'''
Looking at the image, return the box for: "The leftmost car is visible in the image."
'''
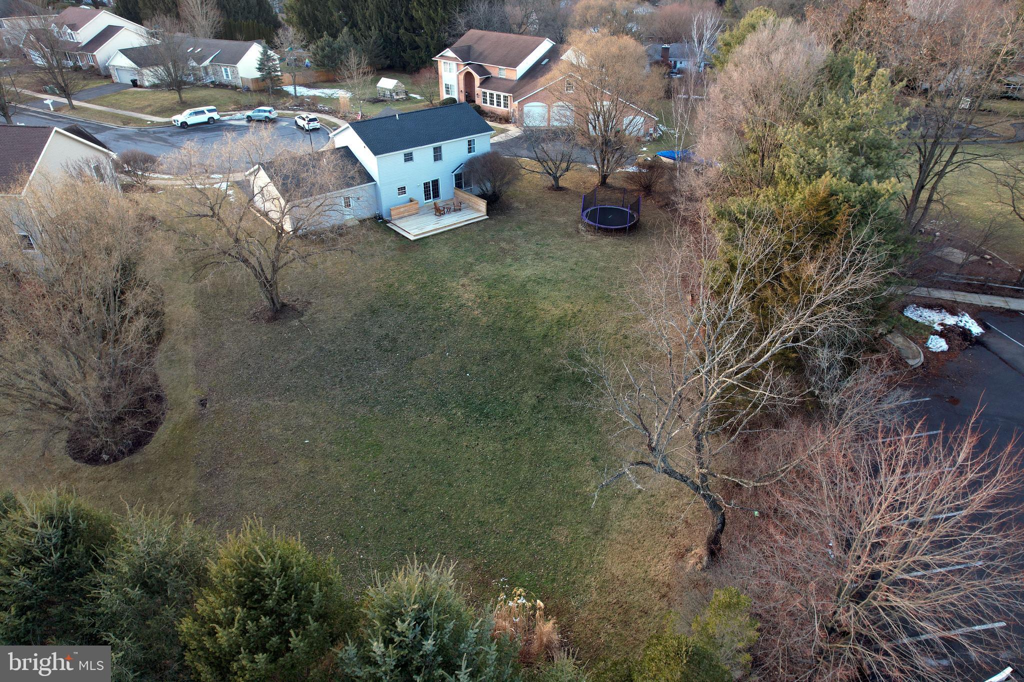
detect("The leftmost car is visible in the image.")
[170,107,219,128]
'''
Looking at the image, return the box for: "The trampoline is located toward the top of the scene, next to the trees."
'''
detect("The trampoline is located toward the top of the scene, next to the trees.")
[581,187,638,237]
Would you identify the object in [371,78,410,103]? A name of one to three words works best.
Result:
greenhouse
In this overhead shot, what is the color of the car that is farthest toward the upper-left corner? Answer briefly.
white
